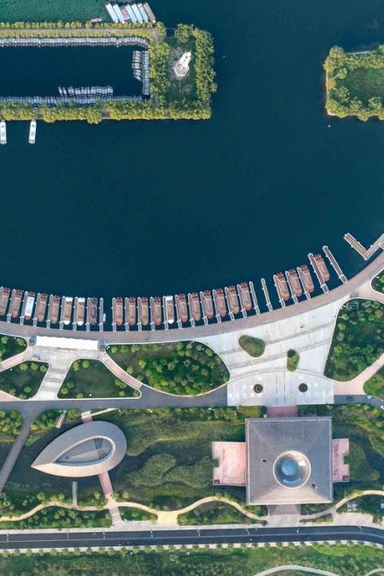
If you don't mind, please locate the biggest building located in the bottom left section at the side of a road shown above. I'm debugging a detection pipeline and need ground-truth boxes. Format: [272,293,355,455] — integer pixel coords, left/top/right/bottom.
[31,421,126,477]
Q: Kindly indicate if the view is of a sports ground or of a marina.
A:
marina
